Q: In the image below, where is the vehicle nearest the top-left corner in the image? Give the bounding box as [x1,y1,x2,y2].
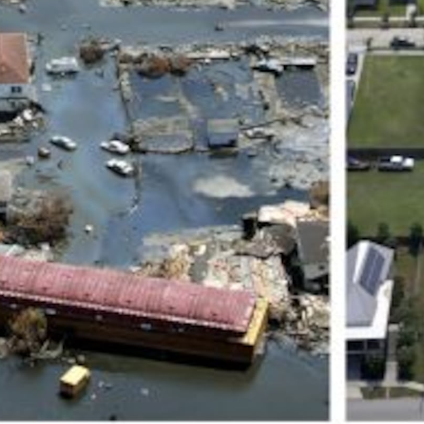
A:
[48,58,77,70]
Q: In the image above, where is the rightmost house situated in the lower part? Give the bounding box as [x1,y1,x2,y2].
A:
[347,241,395,394]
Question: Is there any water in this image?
Yes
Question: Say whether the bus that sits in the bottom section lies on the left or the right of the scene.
left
